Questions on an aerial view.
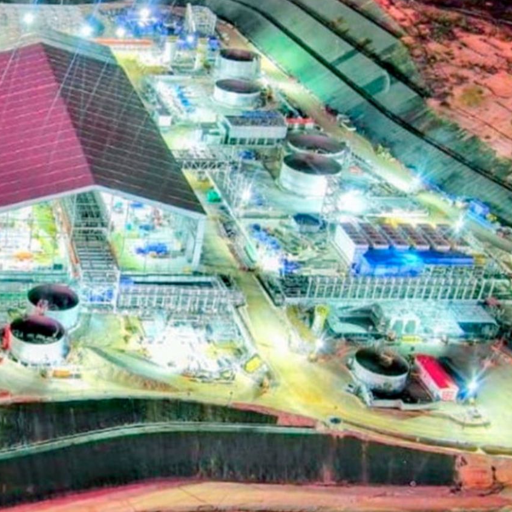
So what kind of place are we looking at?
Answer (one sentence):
The area seen from above is an industrial area.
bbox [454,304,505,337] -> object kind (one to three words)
building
